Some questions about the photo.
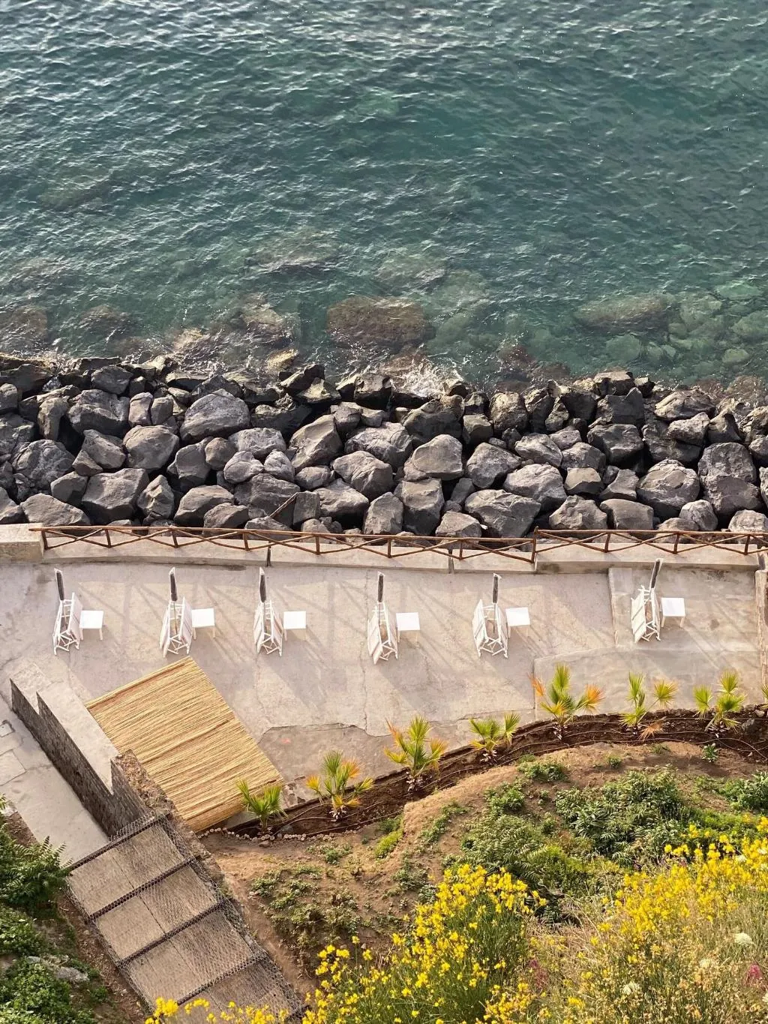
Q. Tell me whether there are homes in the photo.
No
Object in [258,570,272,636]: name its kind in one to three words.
umbrella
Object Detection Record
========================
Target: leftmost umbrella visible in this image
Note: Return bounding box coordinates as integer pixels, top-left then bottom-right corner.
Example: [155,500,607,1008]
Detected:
[50,565,69,629]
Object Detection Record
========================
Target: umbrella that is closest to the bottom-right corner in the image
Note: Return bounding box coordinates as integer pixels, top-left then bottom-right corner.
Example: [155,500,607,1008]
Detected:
[644,557,663,624]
